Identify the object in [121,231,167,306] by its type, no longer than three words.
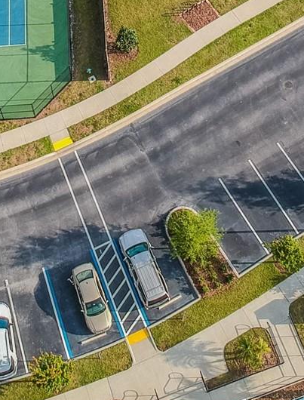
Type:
car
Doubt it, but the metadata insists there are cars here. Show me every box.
[72,263,113,336]
[0,302,19,380]
[121,231,167,306]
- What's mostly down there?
paved ground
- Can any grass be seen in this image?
Yes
